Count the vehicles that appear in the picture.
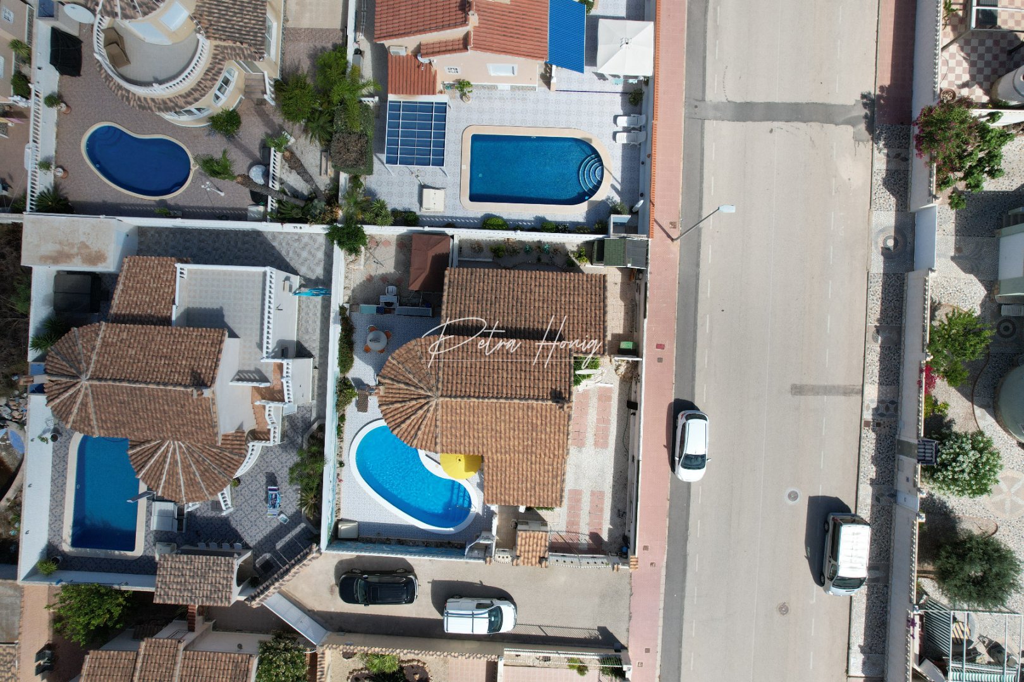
4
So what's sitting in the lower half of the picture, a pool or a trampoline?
pool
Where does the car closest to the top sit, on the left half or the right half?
right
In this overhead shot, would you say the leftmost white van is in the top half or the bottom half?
bottom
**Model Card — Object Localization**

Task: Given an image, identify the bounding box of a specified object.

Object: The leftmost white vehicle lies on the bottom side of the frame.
[443,594,518,637]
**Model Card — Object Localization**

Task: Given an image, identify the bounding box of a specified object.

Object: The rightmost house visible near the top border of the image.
[373,0,551,103]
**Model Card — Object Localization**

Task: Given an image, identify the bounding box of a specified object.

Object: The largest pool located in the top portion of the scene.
[462,128,612,211]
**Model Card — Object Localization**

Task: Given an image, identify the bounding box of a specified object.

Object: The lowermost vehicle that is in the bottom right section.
[824,514,871,593]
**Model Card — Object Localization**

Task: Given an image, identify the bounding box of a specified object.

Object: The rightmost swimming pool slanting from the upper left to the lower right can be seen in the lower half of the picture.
[349,418,480,536]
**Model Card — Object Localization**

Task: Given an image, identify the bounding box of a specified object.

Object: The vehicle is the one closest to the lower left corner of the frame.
[339,567,418,610]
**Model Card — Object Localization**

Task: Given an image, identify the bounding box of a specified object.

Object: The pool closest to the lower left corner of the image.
[63,431,143,558]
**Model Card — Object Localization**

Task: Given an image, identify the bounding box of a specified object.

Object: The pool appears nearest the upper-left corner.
[83,120,193,198]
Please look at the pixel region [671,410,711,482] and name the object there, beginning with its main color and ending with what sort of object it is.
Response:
white car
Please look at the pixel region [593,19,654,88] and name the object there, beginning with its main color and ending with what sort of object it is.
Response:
white gazebo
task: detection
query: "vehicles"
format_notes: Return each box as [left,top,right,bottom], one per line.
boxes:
[824,514,871,593]
[339,567,418,610]
[671,410,711,482]
[443,594,518,637]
